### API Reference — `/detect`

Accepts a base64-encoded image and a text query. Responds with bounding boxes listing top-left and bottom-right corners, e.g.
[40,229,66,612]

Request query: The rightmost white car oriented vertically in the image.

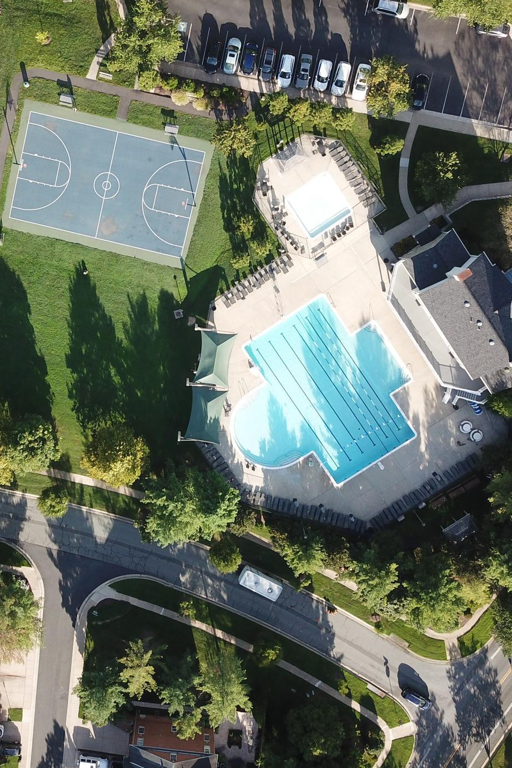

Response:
[351,63,371,101]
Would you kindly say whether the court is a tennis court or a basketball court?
basketball court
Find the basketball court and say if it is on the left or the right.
left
